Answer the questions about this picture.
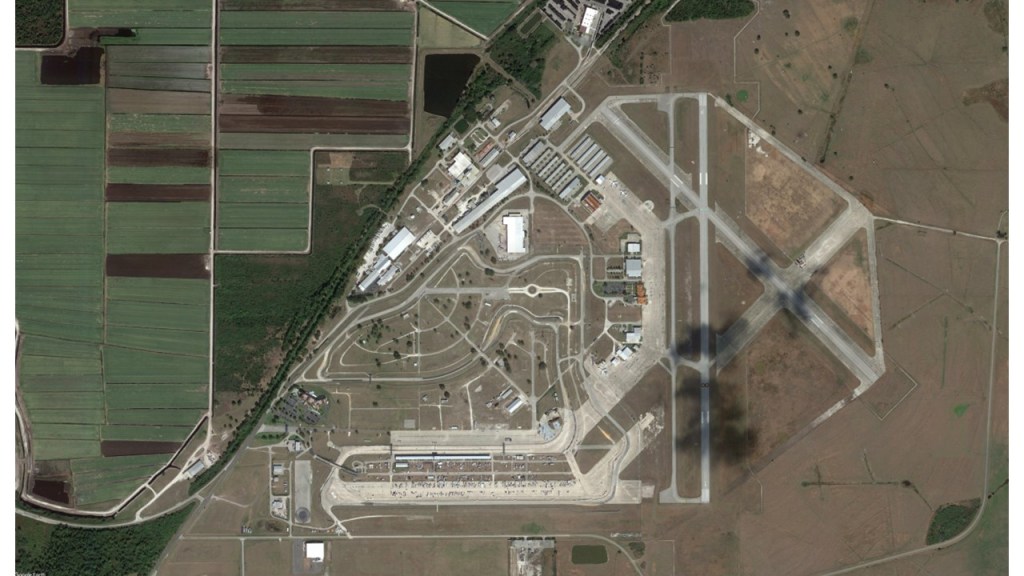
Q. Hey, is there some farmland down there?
Yes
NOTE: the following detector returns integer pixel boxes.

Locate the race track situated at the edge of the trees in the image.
[299,244,654,504]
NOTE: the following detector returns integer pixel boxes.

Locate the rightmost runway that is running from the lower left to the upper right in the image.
[790,209,872,284]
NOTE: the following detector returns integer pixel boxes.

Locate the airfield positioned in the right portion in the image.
[519,91,885,503]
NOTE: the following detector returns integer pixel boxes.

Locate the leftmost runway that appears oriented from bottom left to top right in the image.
[716,267,805,375]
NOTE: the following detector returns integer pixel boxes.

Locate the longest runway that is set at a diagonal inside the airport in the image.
[599,102,879,381]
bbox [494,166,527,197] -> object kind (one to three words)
shed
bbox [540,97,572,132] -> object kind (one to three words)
hangar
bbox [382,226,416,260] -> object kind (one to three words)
building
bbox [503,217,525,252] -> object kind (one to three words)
building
